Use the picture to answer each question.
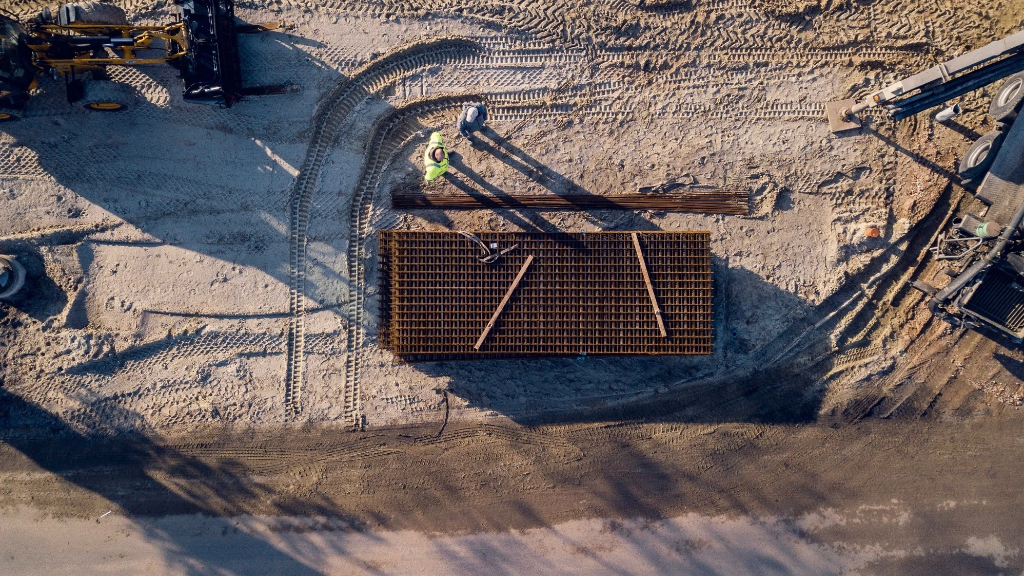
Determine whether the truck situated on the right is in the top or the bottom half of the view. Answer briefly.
top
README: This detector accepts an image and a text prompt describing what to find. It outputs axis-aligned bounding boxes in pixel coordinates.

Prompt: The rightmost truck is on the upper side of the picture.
[826,27,1024,349]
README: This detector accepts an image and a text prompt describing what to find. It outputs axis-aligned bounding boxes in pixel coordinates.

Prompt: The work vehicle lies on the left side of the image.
[0,2,185,122]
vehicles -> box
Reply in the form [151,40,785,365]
[0,2,185,122]
[826,27,1024,349]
